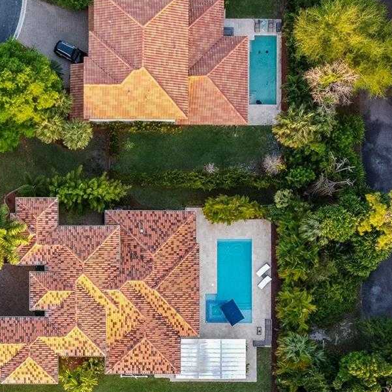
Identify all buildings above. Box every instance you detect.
[0,197,201,385]
[70,0,248,125]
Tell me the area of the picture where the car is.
top left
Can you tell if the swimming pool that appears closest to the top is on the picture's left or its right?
right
